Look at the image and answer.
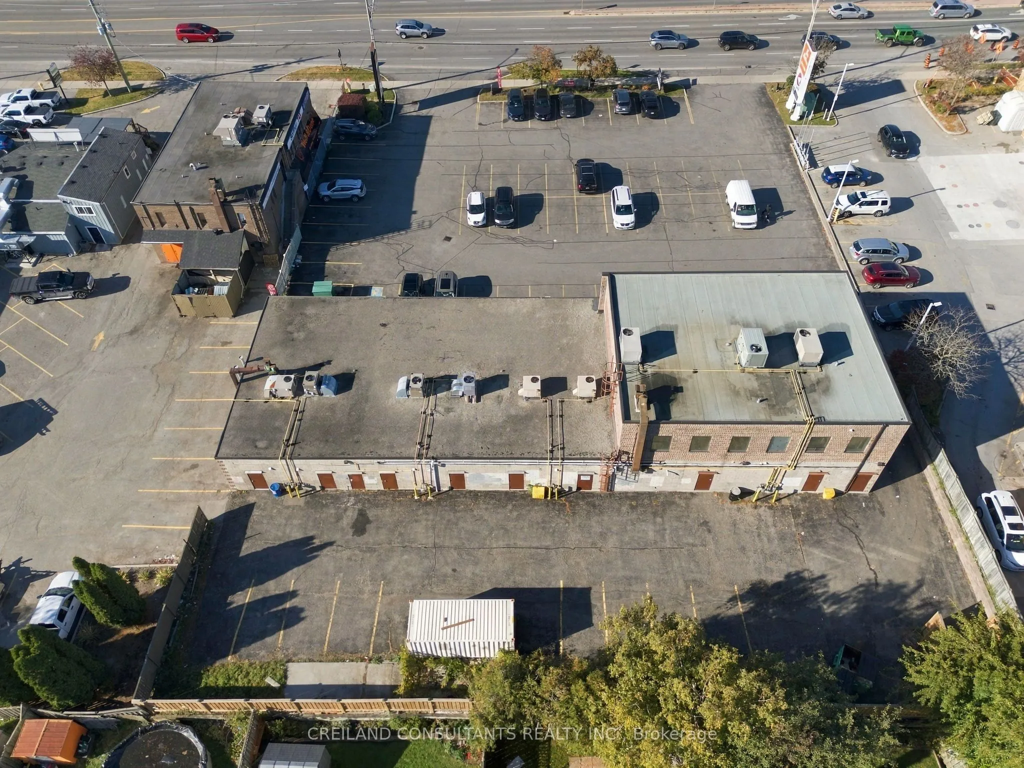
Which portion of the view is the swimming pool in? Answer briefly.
bottom left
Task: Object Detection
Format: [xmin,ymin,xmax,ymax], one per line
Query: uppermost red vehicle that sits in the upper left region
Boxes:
[175,23,220,43]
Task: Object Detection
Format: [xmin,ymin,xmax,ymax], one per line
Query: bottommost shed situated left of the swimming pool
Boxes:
[13,718,83,766]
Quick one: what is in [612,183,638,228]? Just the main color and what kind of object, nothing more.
white car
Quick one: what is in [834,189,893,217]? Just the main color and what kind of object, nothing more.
white car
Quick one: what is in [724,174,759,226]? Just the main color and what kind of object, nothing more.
white van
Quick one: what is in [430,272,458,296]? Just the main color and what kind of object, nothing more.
gray car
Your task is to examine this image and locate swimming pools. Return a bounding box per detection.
[92,706,226,768]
